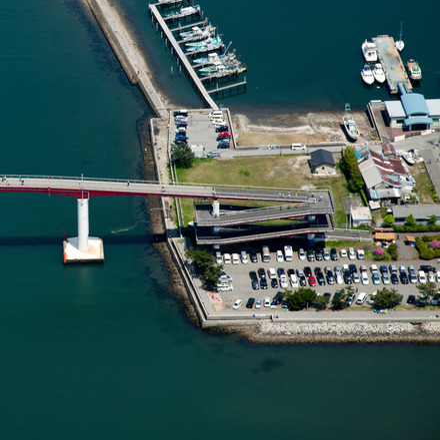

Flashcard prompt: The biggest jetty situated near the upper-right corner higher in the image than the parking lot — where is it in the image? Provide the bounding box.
[372,33,413,96]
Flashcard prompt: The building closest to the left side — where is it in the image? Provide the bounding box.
[307,149,338,179]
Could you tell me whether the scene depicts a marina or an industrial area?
marina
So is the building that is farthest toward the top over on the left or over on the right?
right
